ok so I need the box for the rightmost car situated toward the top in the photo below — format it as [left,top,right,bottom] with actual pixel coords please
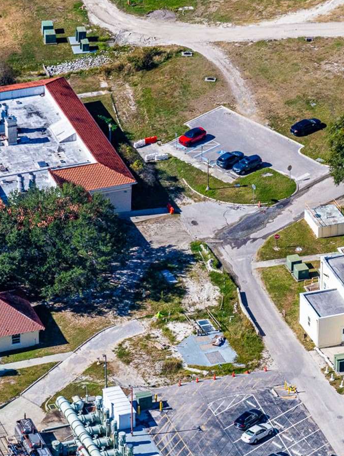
[289,118,324,135]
